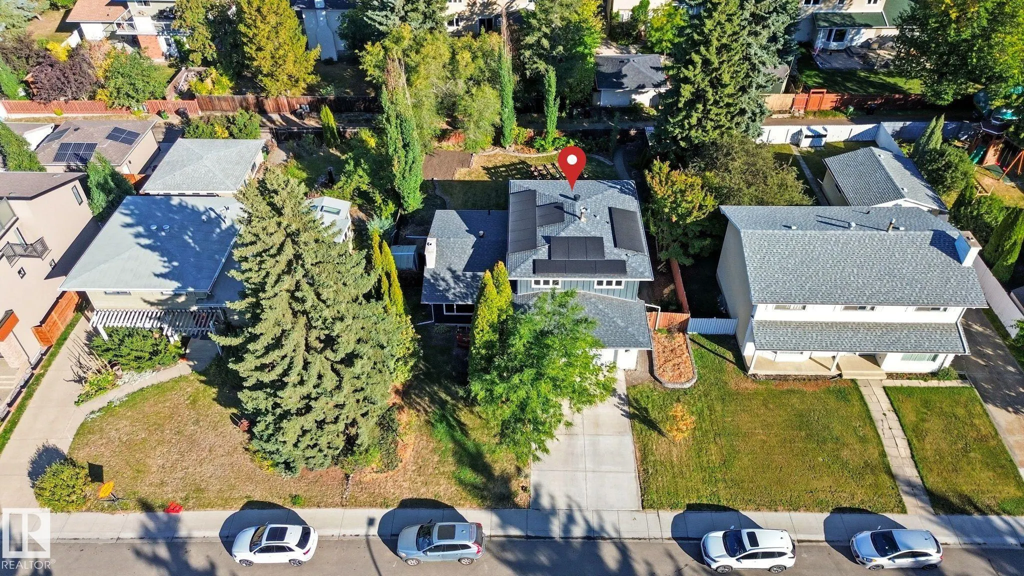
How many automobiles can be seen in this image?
4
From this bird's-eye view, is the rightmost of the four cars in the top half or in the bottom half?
bottom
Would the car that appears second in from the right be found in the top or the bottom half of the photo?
bottom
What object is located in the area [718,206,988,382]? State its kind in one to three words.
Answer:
house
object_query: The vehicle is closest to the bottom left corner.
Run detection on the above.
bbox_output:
[228,519,320,566]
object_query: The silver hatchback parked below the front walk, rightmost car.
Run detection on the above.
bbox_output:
[854,524,949,570]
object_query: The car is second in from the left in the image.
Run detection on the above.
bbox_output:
[395,517,487,566]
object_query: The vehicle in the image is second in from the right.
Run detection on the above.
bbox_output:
[702,523,799,573]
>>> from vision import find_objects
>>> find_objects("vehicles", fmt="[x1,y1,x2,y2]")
[702,523,799,573]
[854,524,949,570]
[228,519,320,566]
[395,517,487,566]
